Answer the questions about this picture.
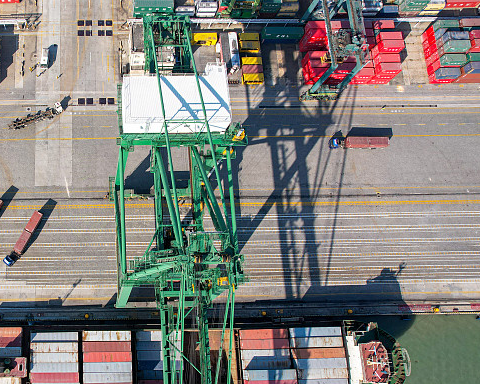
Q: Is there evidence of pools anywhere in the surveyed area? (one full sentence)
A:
No, the scene contains no pool.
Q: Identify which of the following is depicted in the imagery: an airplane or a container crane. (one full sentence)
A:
Looking from above, you can make out a container crane.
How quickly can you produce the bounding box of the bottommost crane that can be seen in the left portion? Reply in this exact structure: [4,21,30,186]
[102,10,265,384]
